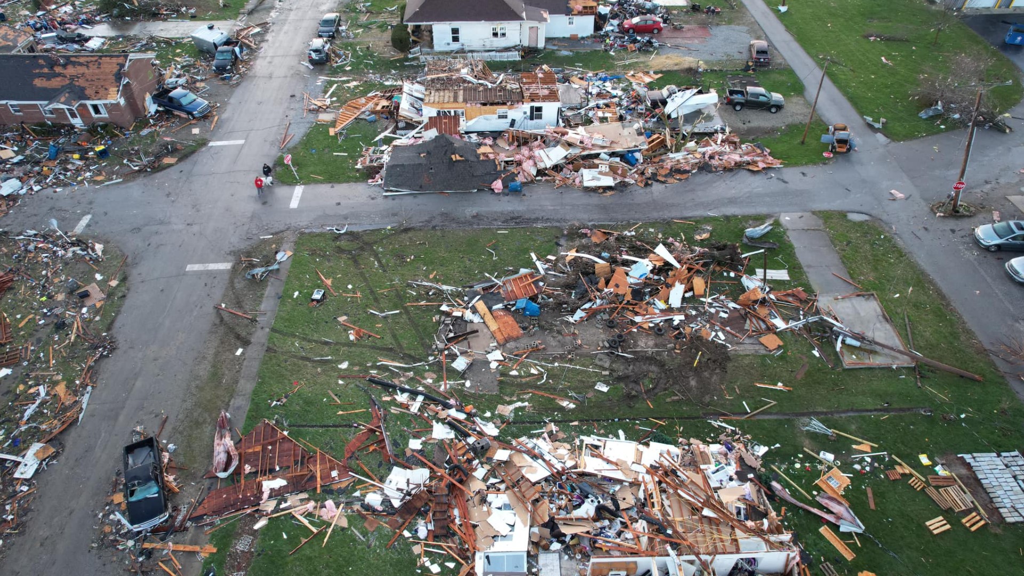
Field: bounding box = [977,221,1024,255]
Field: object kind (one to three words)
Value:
car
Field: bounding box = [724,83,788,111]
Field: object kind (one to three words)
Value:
truck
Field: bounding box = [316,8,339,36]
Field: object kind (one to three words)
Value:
car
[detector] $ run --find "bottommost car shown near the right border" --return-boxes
[1004,259,1024,285]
